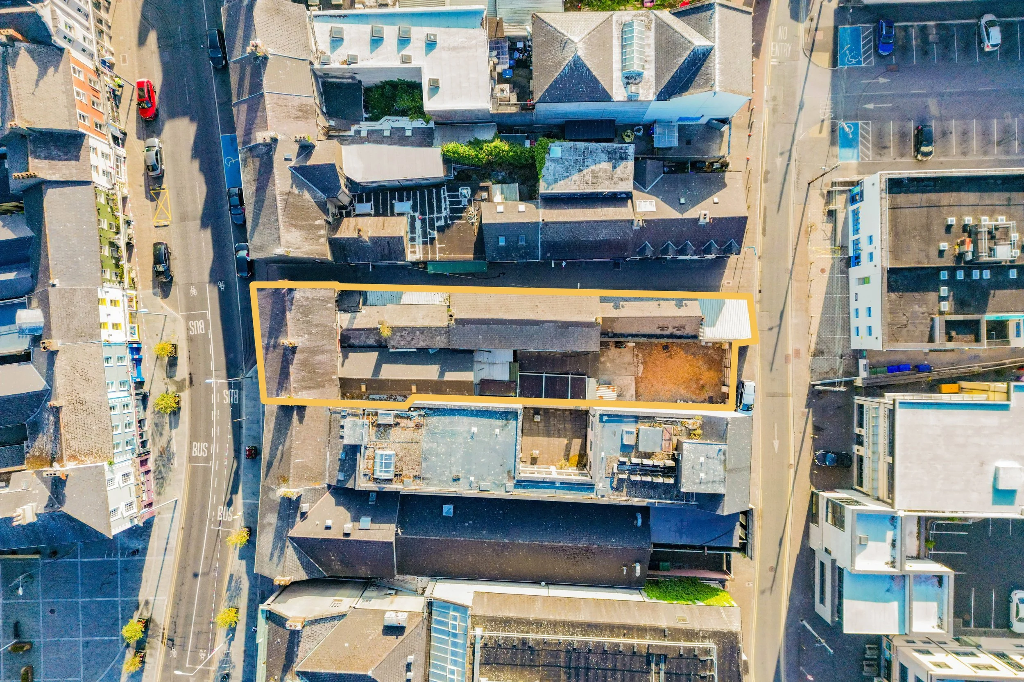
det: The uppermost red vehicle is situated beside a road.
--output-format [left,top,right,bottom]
[136,80,160,119]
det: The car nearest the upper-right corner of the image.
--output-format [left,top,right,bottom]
[976,13,1001,52]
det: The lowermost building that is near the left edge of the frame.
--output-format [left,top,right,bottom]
[0,459,148,551]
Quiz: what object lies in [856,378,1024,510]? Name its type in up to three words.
building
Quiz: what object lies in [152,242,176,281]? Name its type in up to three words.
car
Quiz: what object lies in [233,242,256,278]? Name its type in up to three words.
car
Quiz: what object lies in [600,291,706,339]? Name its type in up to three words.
house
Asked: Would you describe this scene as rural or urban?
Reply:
urban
